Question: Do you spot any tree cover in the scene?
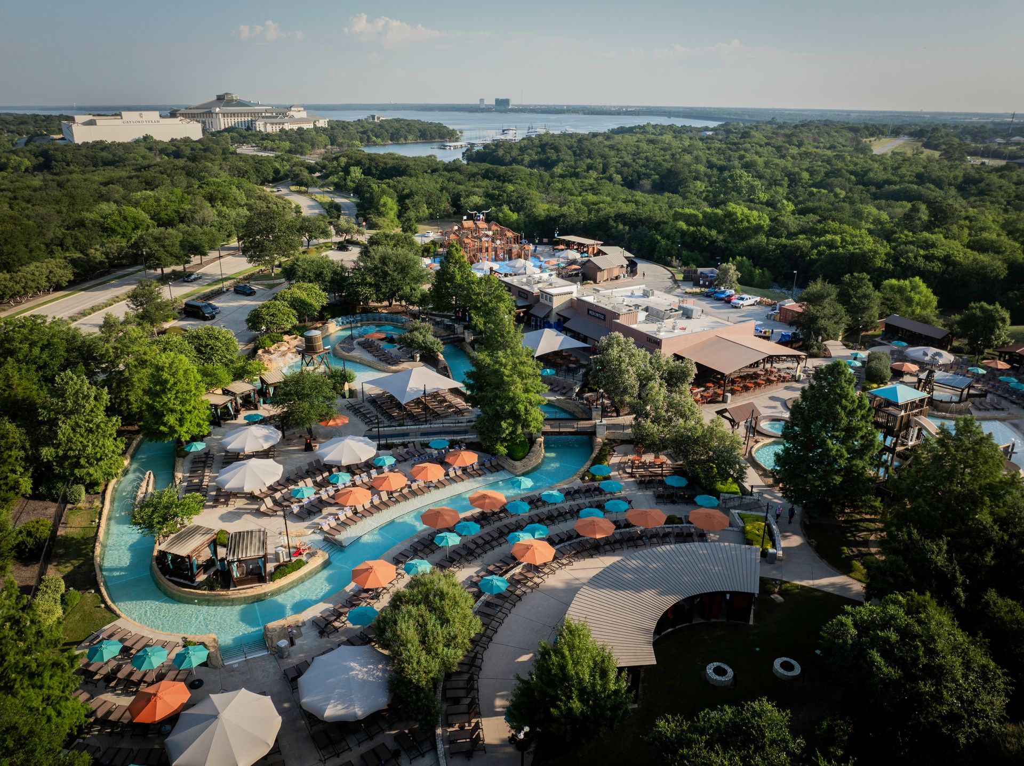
Yes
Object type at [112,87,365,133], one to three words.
building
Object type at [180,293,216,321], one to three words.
van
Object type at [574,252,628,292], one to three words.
barn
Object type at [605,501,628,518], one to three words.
umbrella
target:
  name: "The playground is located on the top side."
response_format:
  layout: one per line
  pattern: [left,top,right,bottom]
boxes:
[441,206,533,275]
